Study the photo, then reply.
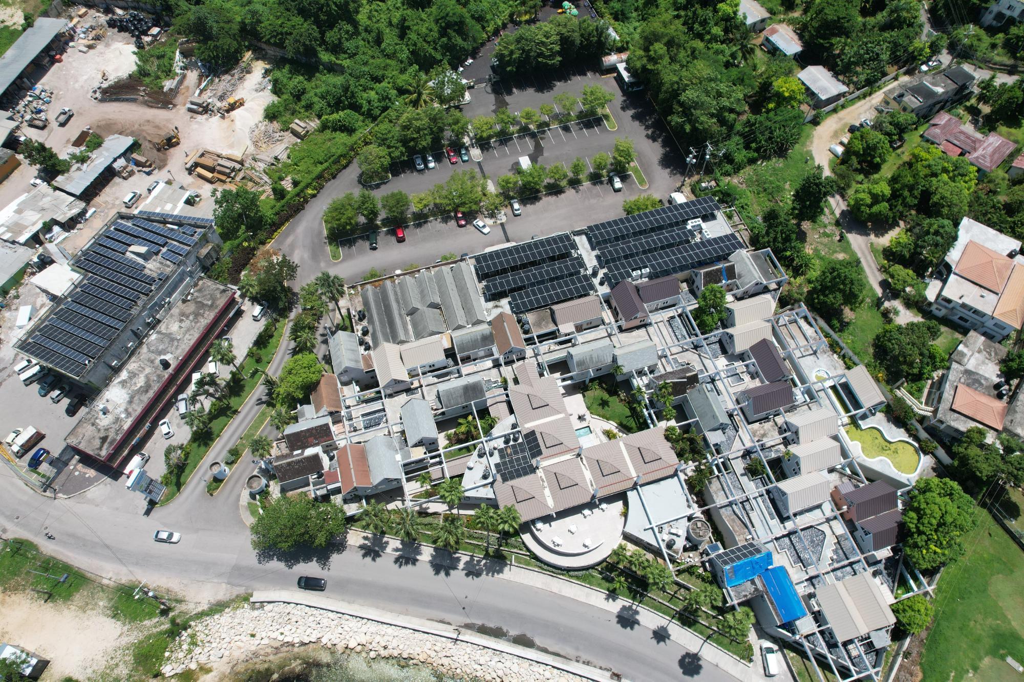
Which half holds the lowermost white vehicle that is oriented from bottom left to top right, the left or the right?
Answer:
left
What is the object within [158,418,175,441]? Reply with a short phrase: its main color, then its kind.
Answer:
white car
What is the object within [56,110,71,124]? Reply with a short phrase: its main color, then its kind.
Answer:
gray vehicle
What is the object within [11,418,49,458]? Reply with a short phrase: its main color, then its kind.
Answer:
white truck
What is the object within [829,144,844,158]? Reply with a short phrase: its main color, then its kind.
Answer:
white car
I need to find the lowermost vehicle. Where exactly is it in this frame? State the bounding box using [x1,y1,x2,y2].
[760,642,779,679]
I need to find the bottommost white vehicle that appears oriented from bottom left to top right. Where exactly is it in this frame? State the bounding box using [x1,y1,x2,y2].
[120,450,151,481]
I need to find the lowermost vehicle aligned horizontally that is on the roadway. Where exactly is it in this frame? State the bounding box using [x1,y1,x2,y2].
[295,574,329,591]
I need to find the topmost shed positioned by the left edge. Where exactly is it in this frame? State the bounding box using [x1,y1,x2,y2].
[0,18,72,107]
